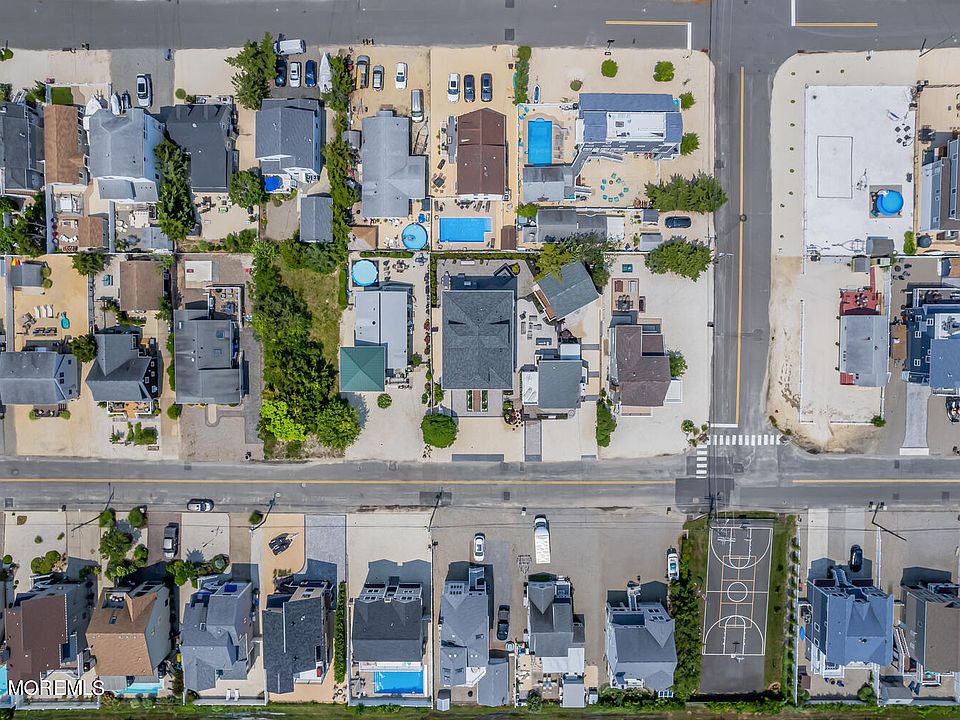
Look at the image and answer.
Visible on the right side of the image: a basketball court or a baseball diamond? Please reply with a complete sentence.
The feature located on the right side of the image is a basketball court.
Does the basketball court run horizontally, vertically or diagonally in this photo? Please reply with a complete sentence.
Seen from above, the basketball court lies vertically.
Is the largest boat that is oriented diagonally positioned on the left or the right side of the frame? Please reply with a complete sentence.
The largest boat that is oriented diagonally appears in the left half of the scene.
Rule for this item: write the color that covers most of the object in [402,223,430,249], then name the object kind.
blue swimming pool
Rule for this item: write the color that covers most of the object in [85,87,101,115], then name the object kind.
white boat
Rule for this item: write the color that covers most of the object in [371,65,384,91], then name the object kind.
gray vehicle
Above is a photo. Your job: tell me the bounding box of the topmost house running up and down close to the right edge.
[917,135,960,239]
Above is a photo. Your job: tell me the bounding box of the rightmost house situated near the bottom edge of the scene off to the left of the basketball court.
[605,579,682,700]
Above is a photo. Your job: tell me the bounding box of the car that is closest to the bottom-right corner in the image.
[848,544,862,572]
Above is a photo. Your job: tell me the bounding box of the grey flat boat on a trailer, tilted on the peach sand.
[267,533,297,554]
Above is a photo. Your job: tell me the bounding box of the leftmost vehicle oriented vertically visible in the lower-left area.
[162,524,177,557]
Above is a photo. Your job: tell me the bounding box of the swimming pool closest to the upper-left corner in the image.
[263,176,281,194]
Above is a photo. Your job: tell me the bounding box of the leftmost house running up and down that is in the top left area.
[0,101,44,193]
